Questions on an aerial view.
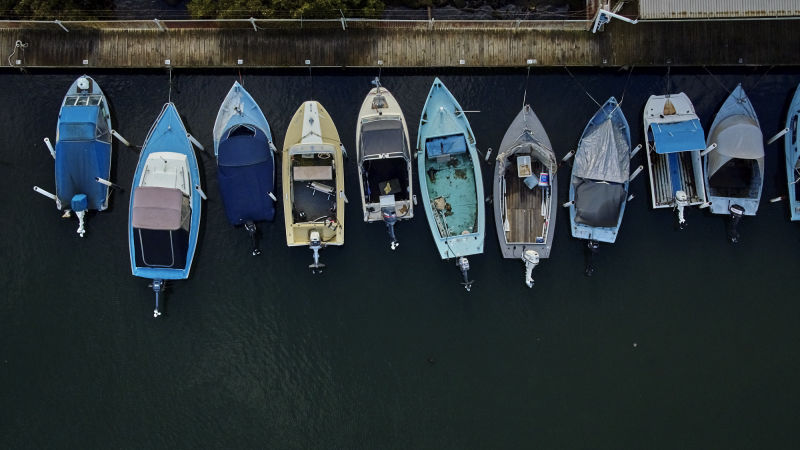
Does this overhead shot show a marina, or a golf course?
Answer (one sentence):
This looks like a marina.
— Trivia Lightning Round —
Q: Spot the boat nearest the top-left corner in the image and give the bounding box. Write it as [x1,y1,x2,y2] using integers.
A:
[54,74,113,239]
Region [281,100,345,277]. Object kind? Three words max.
boat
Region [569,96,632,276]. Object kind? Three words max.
boat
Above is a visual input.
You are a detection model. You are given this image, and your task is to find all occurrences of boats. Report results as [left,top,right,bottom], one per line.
[414,77,485,292]
[212,80,275,256]
[54,74,113,239]
[281,100,345,277]
[493,102,559,289]
[128,102,202,318]
[783,83,800,220]
[705,84,765,245]
[356,77,413,248]
[644,91,707,230]
[569,96,632,276]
